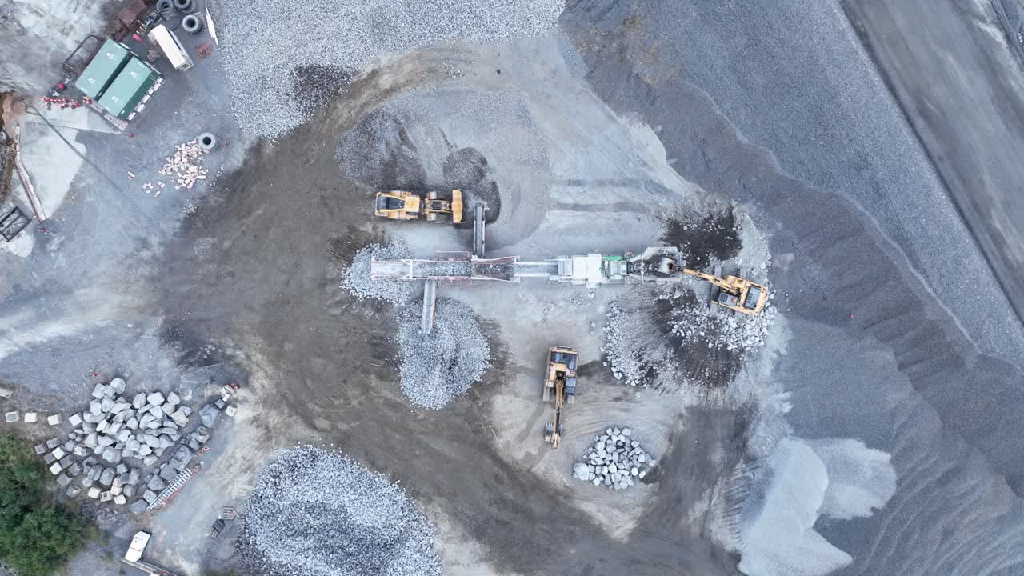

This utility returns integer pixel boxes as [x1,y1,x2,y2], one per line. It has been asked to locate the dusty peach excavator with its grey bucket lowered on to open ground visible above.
[544,346,578,450]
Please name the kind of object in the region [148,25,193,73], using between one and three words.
trailer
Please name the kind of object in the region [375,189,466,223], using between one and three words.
work vehicle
